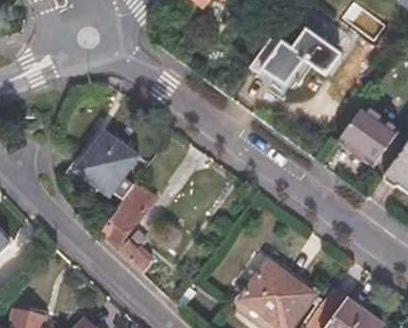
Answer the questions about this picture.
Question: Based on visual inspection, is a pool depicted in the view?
Yes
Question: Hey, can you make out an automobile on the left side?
No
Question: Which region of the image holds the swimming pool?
top right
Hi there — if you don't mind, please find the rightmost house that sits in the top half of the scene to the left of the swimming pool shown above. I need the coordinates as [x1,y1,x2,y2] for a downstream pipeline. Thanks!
[248,28,342,102]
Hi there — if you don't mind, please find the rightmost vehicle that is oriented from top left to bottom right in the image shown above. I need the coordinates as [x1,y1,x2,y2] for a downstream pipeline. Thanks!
[267,148,290,168]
